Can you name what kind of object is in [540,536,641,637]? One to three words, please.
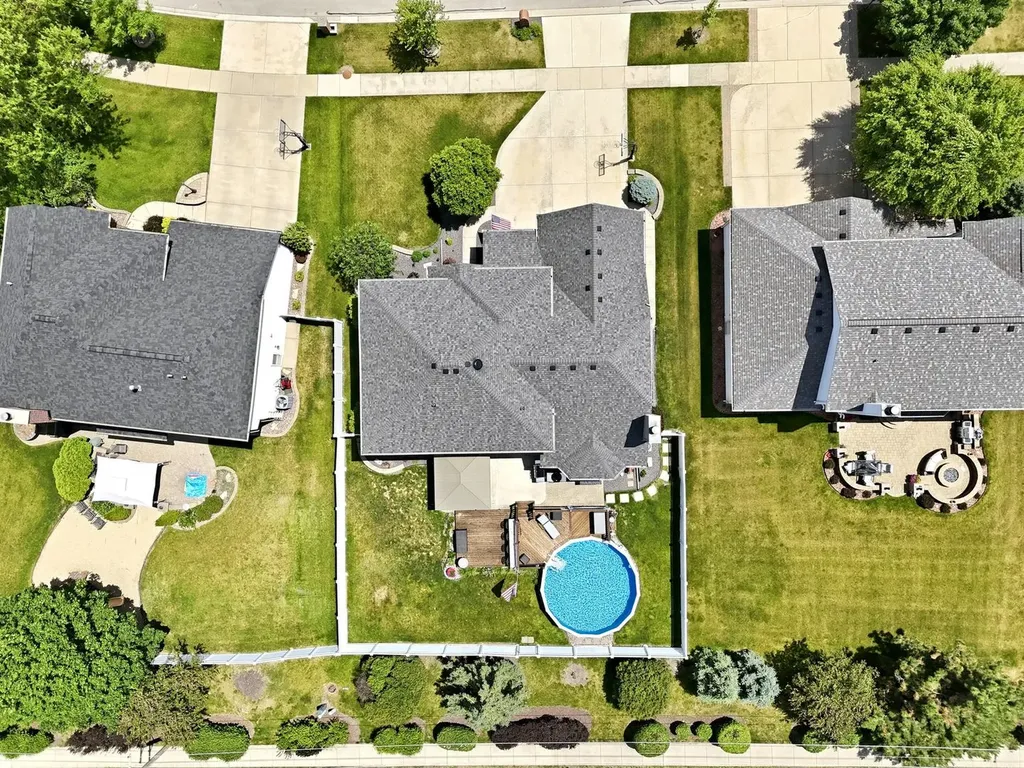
swimming pool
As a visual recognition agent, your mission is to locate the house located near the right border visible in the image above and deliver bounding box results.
[724,197,1024,418]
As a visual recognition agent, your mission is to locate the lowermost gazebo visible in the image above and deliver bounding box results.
[433,456,493,510]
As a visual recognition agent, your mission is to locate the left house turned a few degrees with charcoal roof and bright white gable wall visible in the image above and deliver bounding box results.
[0,204,296,442]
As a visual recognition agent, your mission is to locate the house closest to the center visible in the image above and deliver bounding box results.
[357,203,662,481]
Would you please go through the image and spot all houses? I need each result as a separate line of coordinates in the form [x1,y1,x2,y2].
[357,203,662,481]
[0,204,296,442]
[724,197,1024,418]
